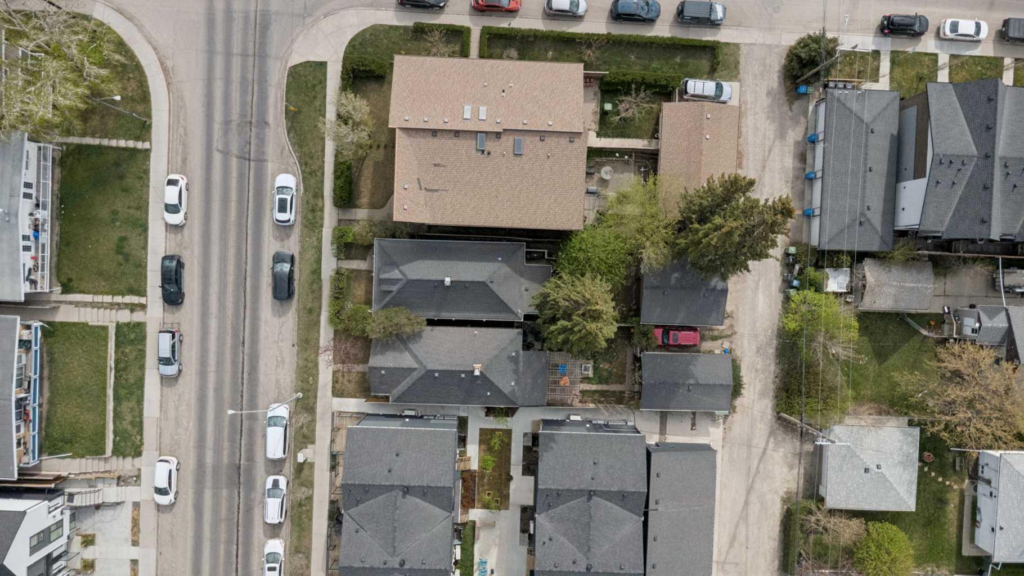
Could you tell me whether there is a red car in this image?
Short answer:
Yes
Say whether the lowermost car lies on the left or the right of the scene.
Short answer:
left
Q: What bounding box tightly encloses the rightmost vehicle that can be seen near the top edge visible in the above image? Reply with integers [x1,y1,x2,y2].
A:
[1001,17,1024,43]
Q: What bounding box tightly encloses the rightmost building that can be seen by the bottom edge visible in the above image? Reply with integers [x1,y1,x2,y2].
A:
[975,445,1024,562]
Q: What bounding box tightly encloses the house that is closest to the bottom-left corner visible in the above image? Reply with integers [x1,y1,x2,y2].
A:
[0,488,80,576]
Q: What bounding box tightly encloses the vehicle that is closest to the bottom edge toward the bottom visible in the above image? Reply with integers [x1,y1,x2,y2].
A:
[259,538,286,576]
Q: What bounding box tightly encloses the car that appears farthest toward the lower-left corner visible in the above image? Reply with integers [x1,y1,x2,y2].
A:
[151,456,180,505]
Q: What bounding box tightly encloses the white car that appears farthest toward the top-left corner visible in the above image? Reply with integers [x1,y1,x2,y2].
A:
[161,174,189,226]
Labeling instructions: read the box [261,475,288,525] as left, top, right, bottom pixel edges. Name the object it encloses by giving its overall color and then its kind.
white car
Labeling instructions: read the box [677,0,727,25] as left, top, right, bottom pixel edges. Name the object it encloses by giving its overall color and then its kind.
gray car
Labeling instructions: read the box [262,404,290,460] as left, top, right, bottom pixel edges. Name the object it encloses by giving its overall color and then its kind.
white car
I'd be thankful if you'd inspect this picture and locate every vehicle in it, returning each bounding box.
[151,456,180,505]
[611,0,661,21]
[268,251,296,301]
[270,174,297,226]
[399,0,448,11]
[653,326,701,350]
[472,0,521,12]
[1001,17,1024,43]
[545,0,589,17]
[154,328,183,378]
[262,404,290,460]
[682,76,732,103]
[880,10,930,38]
[259,538,286,576]
[261,475,288,525]
[157,255,185,305]
[677,0,727,25]
[939,17,989,43]
[161,174,189,226]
